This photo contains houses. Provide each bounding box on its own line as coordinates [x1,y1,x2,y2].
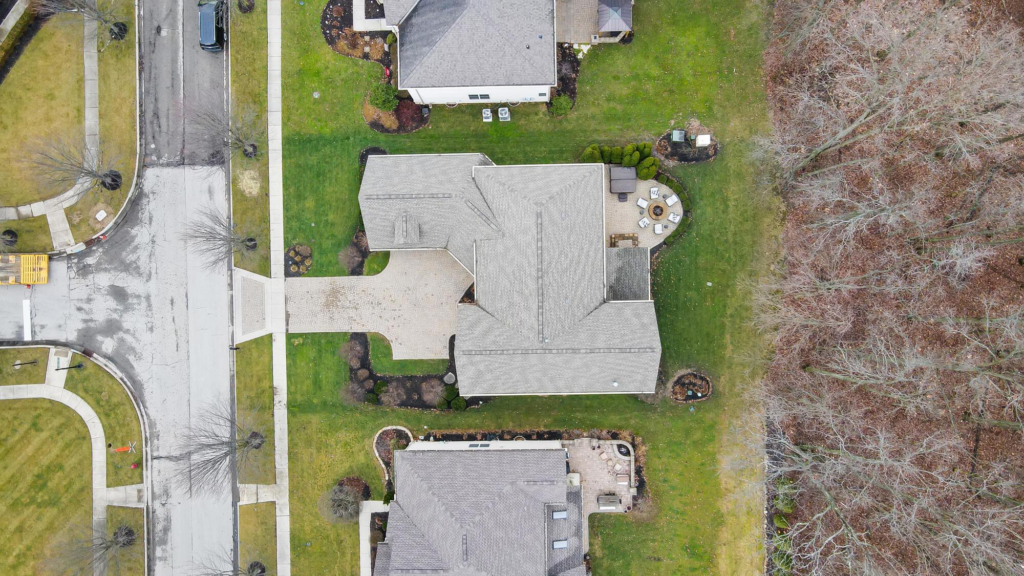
[373,436,586,576]
[384,0,558,110]
[358,152,662,397]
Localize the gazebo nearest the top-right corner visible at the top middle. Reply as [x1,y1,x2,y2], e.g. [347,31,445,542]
[595,0,632,42]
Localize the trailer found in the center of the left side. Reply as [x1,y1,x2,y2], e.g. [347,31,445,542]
[0,255,49,285]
